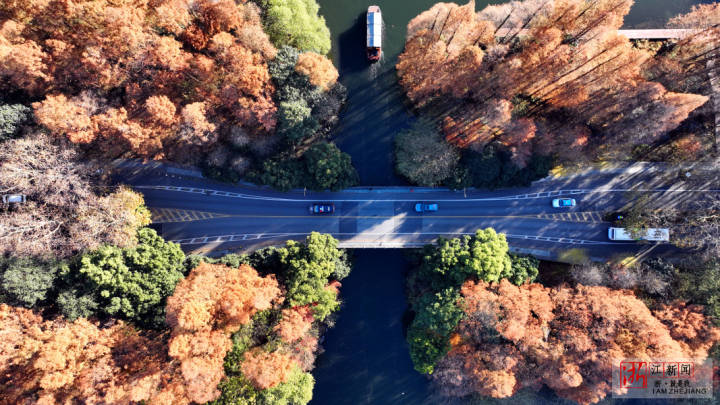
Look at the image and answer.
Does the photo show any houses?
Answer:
No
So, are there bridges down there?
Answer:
Yes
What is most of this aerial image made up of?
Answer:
trees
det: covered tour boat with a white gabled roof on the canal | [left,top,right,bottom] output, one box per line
[367,6,384,68]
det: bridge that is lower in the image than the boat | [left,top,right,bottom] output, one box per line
[329,186,434,248]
